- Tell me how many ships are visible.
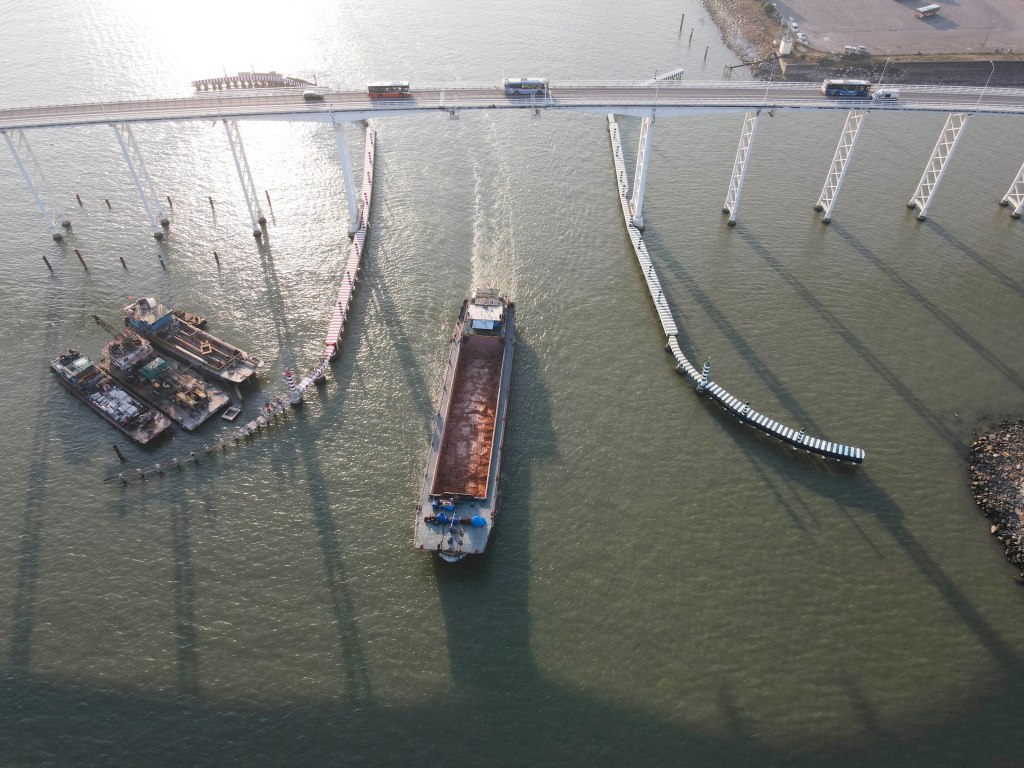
4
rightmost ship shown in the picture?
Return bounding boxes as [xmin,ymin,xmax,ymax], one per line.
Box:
[414,287,515,553]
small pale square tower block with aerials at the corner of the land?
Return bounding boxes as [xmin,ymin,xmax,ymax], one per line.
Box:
[780,13,799,56]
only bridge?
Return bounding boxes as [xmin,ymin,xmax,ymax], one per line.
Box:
[0,79,1024,241]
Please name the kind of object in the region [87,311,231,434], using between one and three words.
ship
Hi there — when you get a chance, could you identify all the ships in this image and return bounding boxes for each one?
[49,345,170,448]
[414,287,515,553]
[117,293,261,397]
[87,311,231,434]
